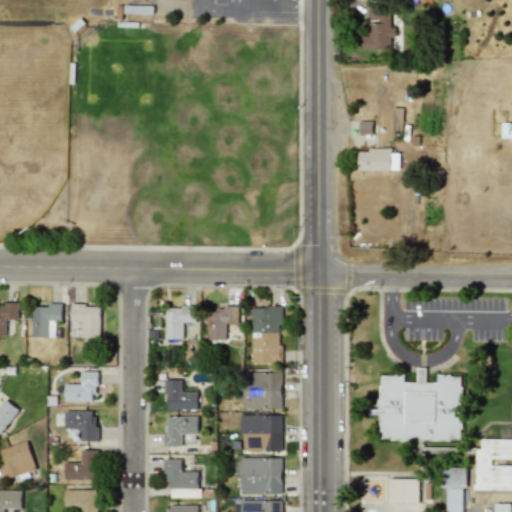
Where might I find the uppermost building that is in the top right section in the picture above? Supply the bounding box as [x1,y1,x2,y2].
[363,13,399,50]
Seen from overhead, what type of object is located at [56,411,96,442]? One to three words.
house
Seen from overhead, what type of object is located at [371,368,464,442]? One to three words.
building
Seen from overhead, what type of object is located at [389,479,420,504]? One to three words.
building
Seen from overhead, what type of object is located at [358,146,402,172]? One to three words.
house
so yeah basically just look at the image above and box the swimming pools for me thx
[442,3,453,14]
[208,499,216,512]
[192,373,212,383]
